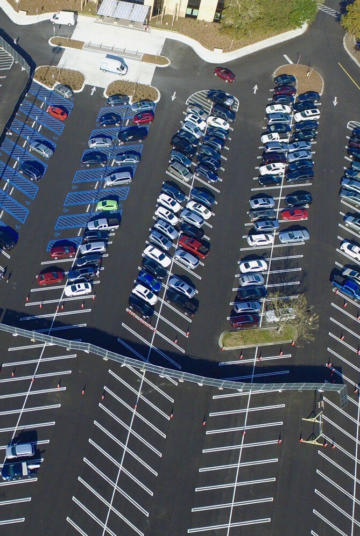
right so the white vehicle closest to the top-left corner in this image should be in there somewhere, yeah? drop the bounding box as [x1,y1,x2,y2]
[51,12,77,26]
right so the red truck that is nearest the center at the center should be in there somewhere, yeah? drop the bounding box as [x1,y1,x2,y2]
[179,235,211,258]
